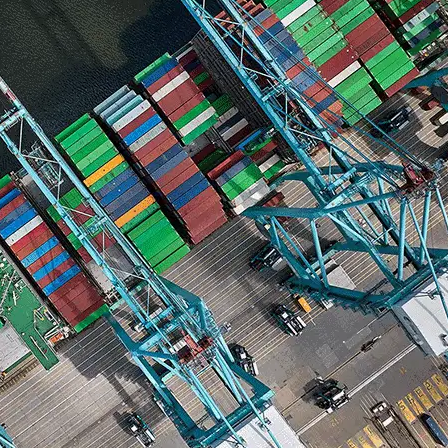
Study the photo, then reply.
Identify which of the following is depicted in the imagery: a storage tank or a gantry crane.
gantry crane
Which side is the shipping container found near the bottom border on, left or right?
right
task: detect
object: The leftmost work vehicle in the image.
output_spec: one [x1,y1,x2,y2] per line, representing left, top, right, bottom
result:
[125,408,159,448]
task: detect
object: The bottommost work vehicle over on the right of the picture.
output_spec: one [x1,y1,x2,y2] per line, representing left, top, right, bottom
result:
[308,378,353,414]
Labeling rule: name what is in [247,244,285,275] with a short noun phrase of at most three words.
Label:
work vehicle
